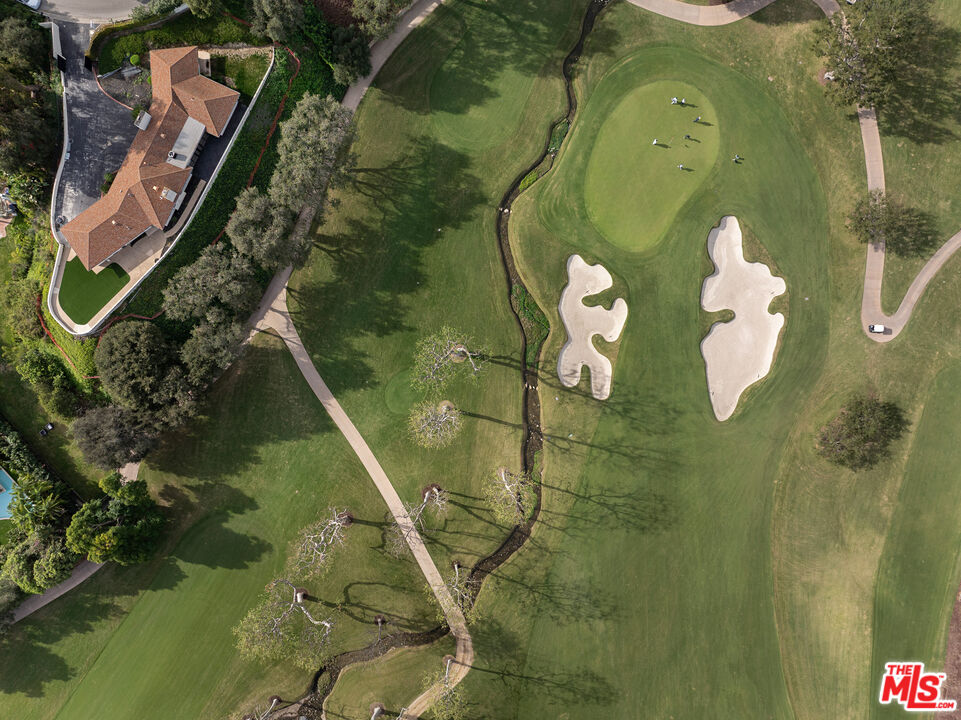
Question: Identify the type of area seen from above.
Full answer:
This image shows a golf course.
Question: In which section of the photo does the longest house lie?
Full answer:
The longest house appears toward the top left of the photo.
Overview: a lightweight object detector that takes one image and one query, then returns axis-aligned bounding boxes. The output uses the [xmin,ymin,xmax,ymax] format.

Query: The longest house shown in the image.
[61,46,241,271]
